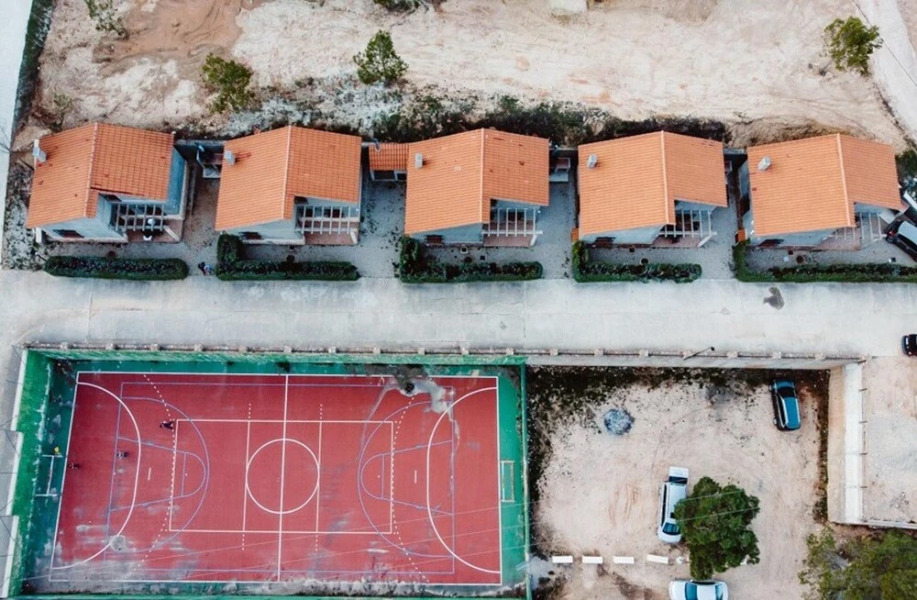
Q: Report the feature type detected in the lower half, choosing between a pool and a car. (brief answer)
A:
car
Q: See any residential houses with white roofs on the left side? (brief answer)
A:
No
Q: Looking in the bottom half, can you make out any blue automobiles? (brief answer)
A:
Yes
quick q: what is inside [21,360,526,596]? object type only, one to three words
sports court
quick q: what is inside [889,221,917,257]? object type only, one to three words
car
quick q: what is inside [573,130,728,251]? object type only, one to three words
house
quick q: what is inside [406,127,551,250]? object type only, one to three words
house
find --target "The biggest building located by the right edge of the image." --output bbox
[734,133,903,253]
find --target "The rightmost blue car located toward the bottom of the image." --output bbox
[770,381,802,432]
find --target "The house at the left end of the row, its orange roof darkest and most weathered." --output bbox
[25,122,187,243]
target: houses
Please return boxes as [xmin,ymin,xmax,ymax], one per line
[25,122,187,243]
[734,133,903,253]
[216,124,367,246]
[573,130,728,251]
[406,127,551,250]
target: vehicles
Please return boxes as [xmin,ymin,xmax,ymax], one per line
[889,221,917,257]
[656,468,688,542]
[670,579,729,600]
[903,334,917,357]
[770,381,802,432]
